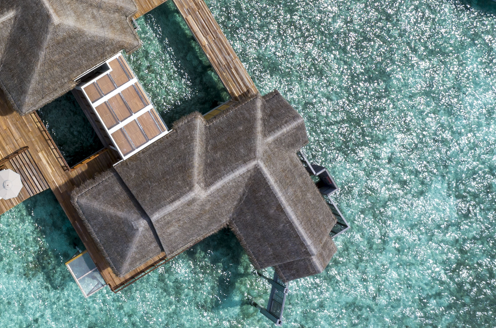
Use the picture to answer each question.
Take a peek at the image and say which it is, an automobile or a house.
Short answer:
house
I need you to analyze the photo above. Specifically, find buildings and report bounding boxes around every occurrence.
[0,0,142,117]
[73,90,339,283]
